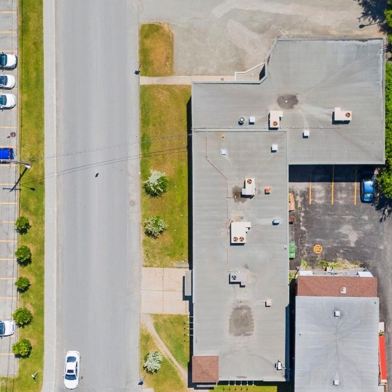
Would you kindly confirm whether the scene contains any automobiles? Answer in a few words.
Yes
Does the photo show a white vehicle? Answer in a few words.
Yes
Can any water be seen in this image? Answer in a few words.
No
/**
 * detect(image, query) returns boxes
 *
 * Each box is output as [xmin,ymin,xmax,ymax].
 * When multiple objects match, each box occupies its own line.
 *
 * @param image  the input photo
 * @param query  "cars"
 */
[0,92,17,111]
[360,169,377,203]
[0,51,18,69]
[0,321,16,339]
[0,71,17,91]
[62,350,80,389]
[0,147,15,163]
